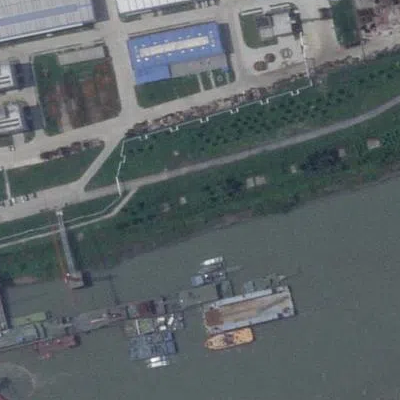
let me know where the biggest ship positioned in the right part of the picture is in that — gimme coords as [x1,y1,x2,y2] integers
[203,286,295,333]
